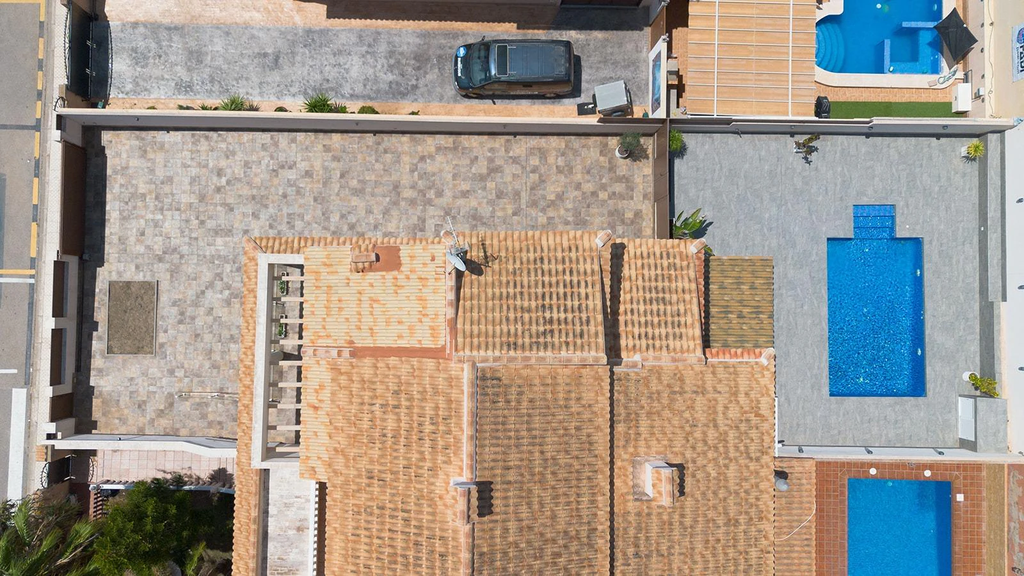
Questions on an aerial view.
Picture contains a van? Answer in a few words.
Yes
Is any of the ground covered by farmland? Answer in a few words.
No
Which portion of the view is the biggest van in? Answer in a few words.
top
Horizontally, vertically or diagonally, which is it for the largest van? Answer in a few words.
horizontally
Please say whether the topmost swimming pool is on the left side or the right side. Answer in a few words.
right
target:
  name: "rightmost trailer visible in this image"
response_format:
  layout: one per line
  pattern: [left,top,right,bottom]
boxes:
[585,81,630,115]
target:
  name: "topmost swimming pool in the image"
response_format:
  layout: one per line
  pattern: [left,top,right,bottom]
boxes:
[815,0,943,73]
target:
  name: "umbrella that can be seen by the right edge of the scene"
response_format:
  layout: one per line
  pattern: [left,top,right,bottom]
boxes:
[933,8,977,70]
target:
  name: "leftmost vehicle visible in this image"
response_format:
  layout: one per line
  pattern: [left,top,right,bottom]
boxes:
[452,40,574,102]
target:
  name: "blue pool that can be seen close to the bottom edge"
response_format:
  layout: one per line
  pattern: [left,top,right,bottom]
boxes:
[848,479,951,576]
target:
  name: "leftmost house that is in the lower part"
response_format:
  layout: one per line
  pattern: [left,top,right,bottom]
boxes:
[231,228,779,576]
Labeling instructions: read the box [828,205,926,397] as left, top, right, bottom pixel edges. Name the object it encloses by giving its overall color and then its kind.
blue swimming pool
